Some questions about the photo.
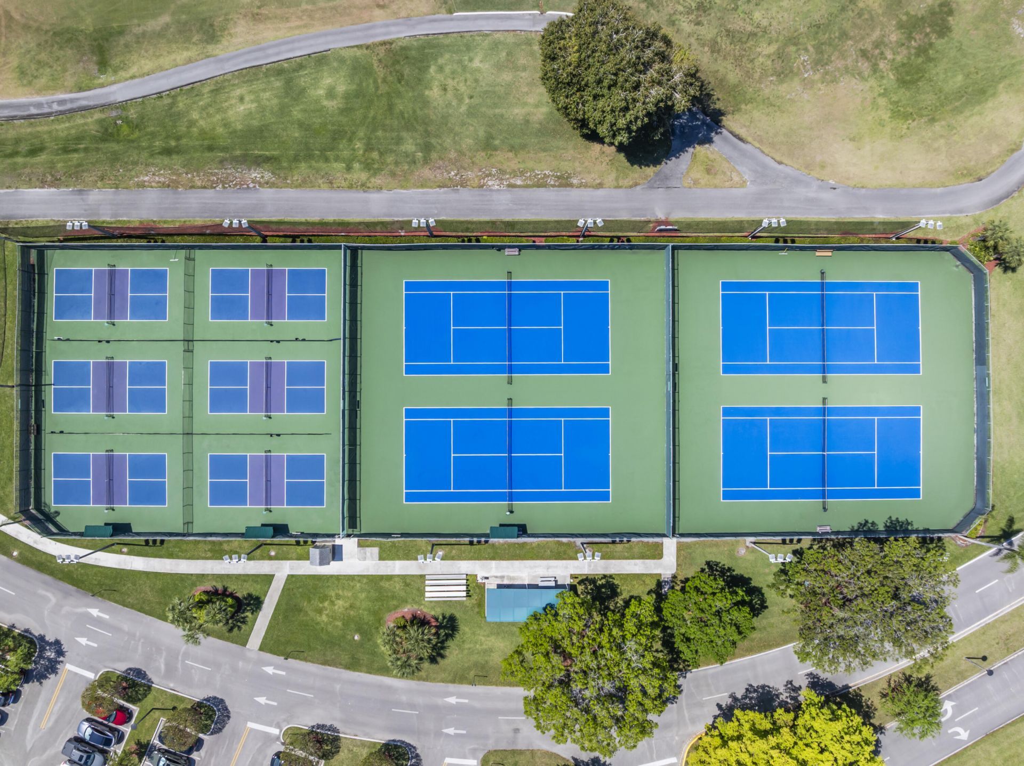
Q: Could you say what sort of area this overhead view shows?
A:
sports ground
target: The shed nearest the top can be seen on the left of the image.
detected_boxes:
[309,544,332,569]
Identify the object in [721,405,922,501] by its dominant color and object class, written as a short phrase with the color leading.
blue tennis court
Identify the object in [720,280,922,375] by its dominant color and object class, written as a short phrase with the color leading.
blue tennis court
